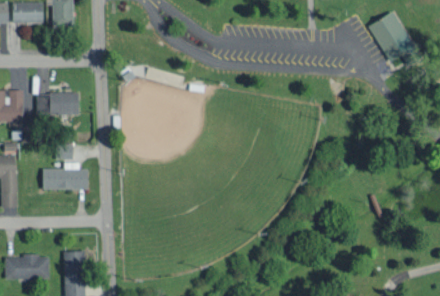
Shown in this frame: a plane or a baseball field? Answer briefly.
baseball field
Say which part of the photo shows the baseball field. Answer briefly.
center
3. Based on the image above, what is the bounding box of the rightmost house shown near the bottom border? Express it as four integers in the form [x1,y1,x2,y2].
[64,251,86,296]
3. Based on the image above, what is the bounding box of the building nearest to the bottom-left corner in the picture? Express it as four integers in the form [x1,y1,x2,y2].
[5,254,49,280]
